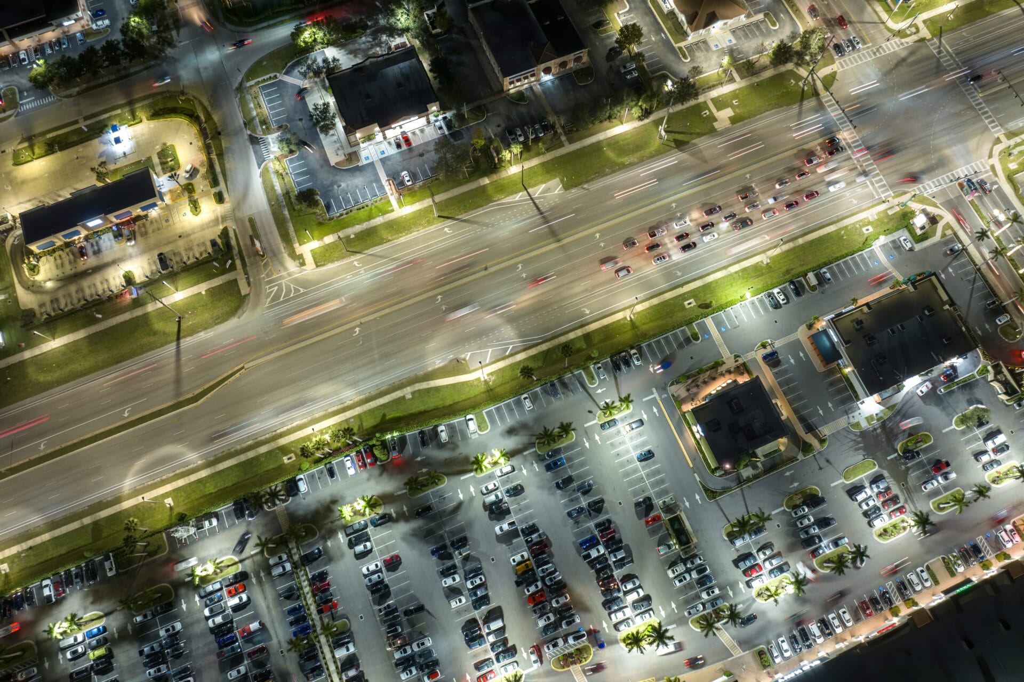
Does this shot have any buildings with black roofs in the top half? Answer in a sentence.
Yes, I can see a building with a black roof in the top half.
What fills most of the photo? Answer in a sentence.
Most of the picture is covered by paved ground.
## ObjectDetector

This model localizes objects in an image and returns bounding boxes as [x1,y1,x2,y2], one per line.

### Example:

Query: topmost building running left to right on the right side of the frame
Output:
[669,0,749,38]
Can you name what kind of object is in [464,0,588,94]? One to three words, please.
building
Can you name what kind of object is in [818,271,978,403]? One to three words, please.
building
